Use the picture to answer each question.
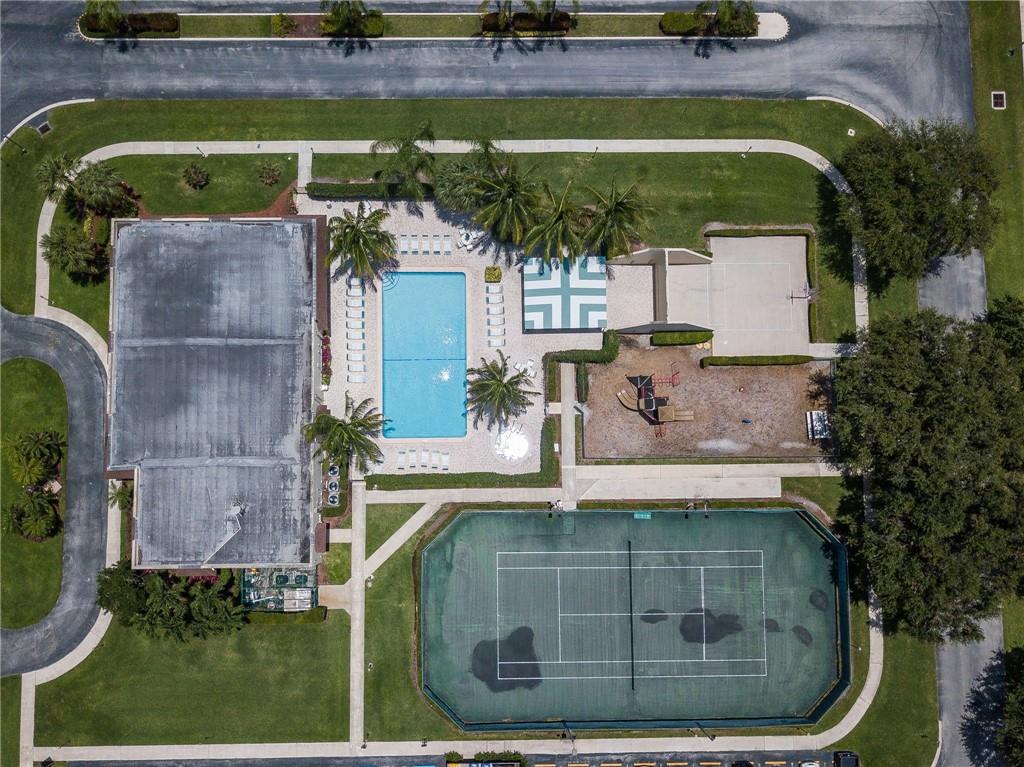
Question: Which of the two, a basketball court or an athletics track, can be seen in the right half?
basketball court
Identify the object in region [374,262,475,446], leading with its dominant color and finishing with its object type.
blue swimming pool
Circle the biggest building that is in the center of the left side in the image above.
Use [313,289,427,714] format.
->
[104,215,330,576]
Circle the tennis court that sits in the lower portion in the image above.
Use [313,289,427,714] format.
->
[425,507,840,718]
